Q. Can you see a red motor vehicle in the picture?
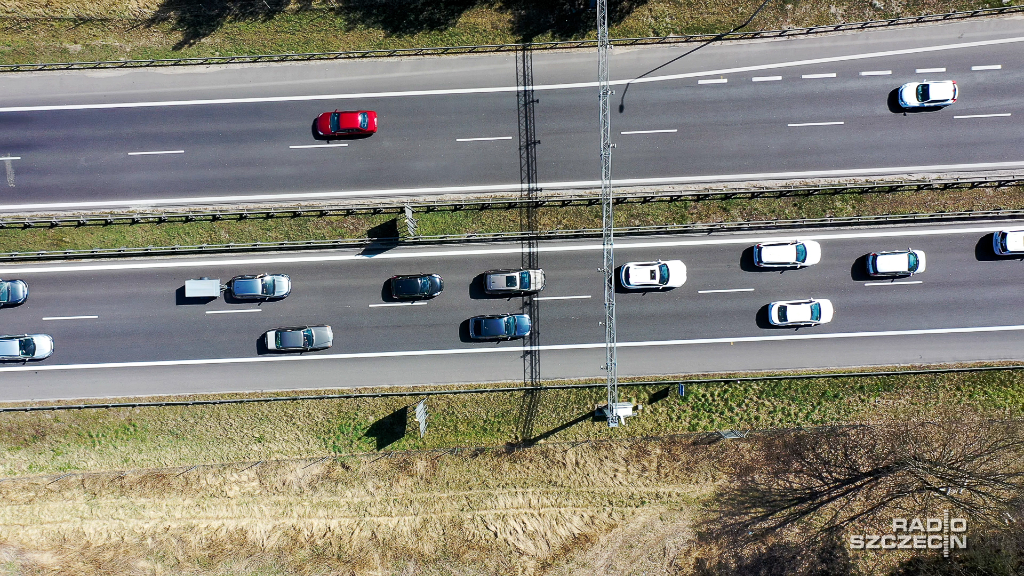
Yes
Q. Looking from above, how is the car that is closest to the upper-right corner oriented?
from side to side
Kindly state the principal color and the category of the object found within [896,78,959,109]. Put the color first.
white car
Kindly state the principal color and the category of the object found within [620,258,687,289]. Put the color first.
white car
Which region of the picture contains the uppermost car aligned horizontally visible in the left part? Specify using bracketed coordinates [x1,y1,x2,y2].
[316,107,378,138]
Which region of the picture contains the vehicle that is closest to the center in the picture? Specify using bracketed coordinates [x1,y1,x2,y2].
[483,265,546,296]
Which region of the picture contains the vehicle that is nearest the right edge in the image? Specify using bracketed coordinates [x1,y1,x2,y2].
[991,231,1024,257]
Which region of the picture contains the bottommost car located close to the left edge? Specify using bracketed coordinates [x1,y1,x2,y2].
[0,331,56,362]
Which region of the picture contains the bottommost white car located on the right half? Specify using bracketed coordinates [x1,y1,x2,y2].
[767,296,834,327]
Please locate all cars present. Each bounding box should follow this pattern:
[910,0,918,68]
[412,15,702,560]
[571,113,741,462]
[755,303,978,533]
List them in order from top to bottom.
[896,78,959,109]
[316,107,378,138]
[991,231,1024,257]
[753,237,821,269]
[864,246,926,277]
[620,258,687,289]
[483,265,546,296]
[230,271,292,302]
[391,271,444,301]
[0,276,31,307]
[767,296,834,327]
[469,311,532,341]
[264,322,335,353]
[0,331,56,362]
